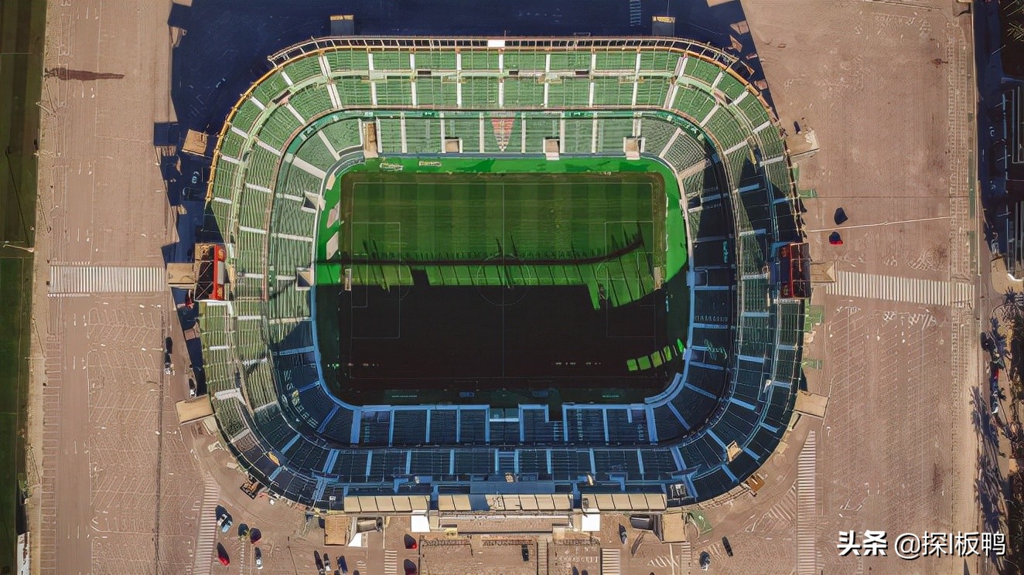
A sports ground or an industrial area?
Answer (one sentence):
The picture captures a sports ground.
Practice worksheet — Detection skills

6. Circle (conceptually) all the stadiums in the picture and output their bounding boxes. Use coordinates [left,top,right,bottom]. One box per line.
[167,15,835,552]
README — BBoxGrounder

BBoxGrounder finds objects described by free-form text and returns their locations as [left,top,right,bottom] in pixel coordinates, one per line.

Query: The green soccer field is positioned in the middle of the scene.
[316,158,691,405]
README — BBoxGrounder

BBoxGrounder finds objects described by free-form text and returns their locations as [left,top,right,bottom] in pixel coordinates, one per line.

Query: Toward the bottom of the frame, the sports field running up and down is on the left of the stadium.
[0,258,34,575]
